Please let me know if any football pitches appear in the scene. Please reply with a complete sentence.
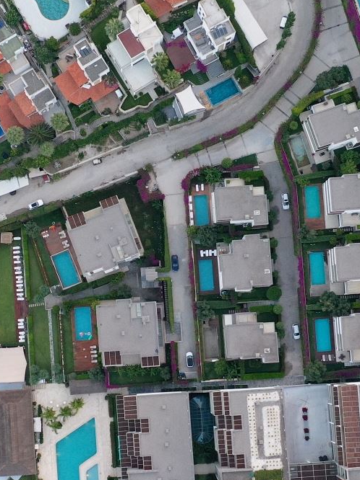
No, I can see no football pitch in this picture.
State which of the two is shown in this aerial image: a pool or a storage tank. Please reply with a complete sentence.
The image shows a pool.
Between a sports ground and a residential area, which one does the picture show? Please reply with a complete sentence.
This looks like a residential area.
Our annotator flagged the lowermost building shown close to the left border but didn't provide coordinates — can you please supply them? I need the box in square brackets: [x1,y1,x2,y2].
[0,389,36,477]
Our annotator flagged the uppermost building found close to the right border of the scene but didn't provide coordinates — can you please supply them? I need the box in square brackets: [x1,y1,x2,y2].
[301,99,360,155]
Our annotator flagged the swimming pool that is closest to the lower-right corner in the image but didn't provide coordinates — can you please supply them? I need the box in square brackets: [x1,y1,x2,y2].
[314,317,333,353]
